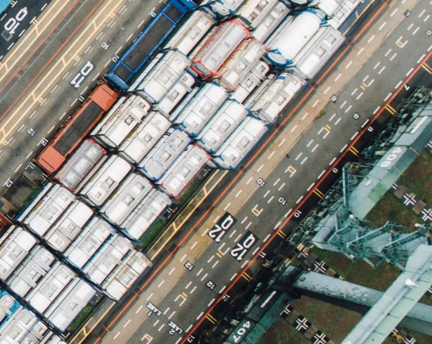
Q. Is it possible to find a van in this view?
No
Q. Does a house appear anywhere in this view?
No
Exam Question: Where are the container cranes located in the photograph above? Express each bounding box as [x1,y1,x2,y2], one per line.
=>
[191,252,432,344]
[286,65,432,272]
